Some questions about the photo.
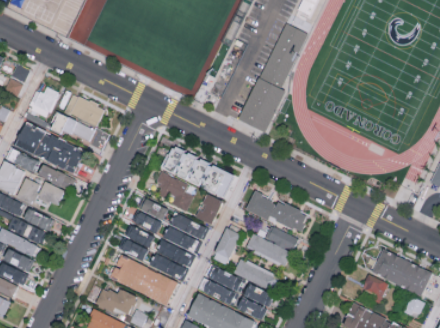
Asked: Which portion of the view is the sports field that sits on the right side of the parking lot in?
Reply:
top right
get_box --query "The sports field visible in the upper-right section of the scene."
[306,0,440,154]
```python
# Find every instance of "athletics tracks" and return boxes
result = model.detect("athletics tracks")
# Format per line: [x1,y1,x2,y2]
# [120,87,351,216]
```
[290,0,440,184]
